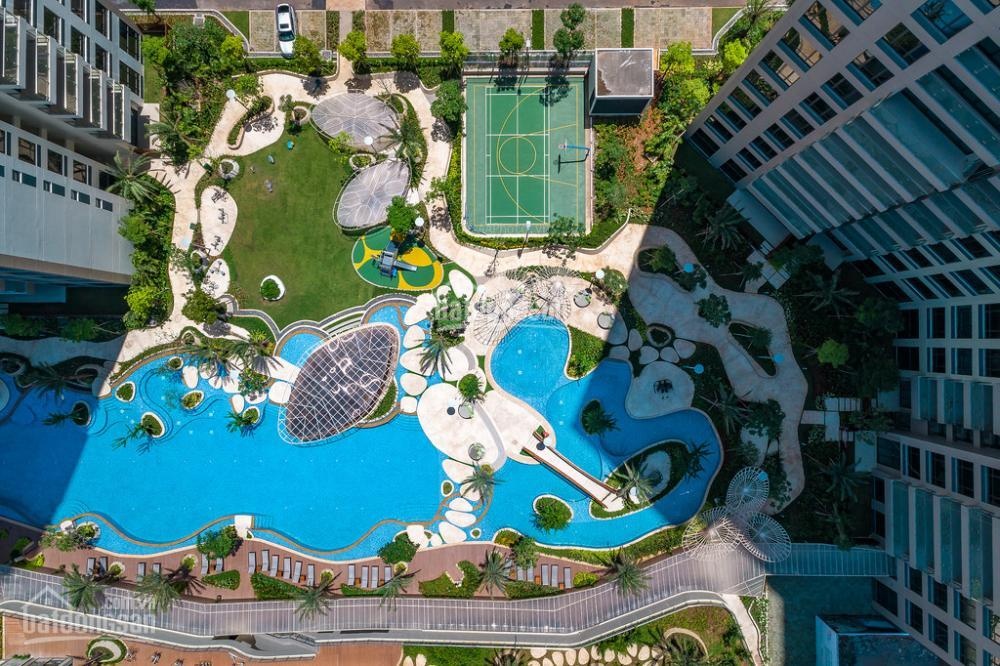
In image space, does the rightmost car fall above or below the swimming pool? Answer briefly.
above it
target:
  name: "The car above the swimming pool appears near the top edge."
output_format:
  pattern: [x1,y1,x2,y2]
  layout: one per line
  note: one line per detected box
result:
[275,5,301,59]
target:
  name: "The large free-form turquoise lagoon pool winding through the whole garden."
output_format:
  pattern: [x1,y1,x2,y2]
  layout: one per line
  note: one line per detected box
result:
[0,297,724,563]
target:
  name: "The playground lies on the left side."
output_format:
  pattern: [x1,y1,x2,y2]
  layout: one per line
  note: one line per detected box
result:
[351,225,445,291]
